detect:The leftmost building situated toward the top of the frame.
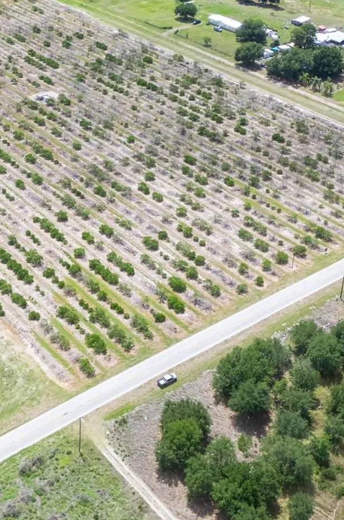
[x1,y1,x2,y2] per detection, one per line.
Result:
[209,16,241,33]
